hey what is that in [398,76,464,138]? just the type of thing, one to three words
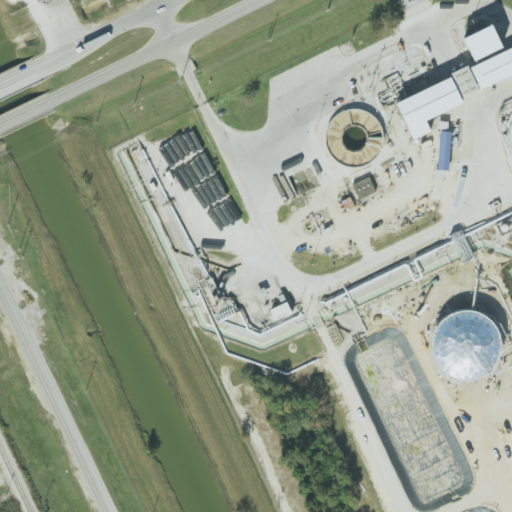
building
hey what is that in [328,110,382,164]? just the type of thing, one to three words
storage tank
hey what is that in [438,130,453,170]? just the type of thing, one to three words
shed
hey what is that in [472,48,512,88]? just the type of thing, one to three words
building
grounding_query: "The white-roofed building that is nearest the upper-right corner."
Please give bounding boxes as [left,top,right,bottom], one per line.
[466,22,506,61]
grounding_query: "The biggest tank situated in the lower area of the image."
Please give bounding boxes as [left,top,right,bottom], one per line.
[430,309,504,384]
